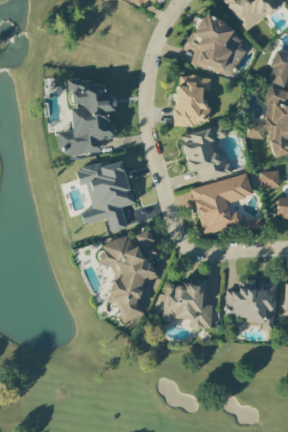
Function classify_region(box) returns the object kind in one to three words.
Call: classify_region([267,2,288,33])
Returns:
swimming pool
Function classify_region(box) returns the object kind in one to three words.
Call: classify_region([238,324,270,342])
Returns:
swimming pool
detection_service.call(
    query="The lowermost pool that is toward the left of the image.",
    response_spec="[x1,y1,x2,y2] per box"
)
[76,245,119,318]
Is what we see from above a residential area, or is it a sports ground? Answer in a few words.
residential area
